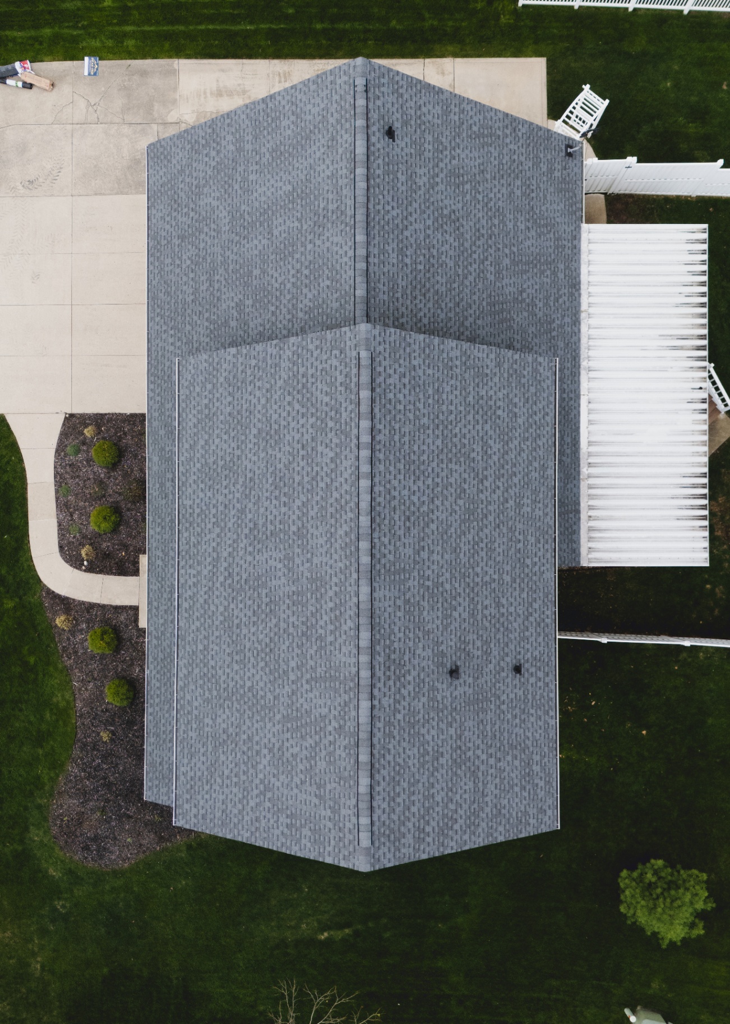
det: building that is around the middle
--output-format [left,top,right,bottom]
[142,55,586,873]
